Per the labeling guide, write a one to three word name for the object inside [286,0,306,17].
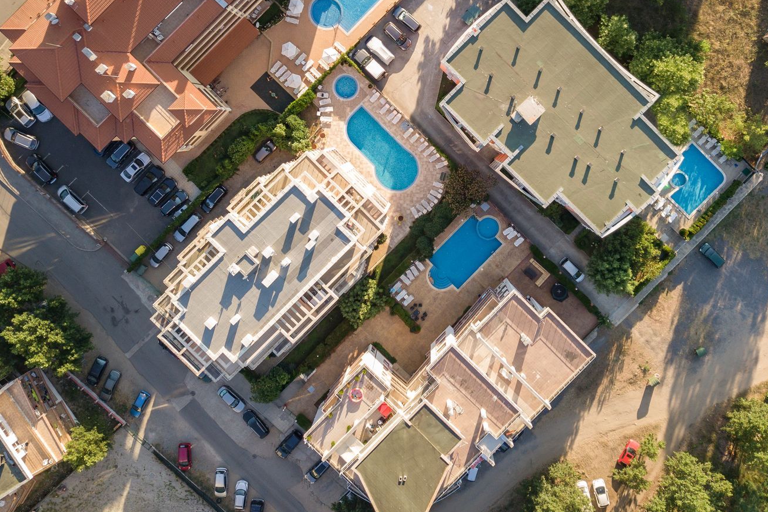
umbrella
